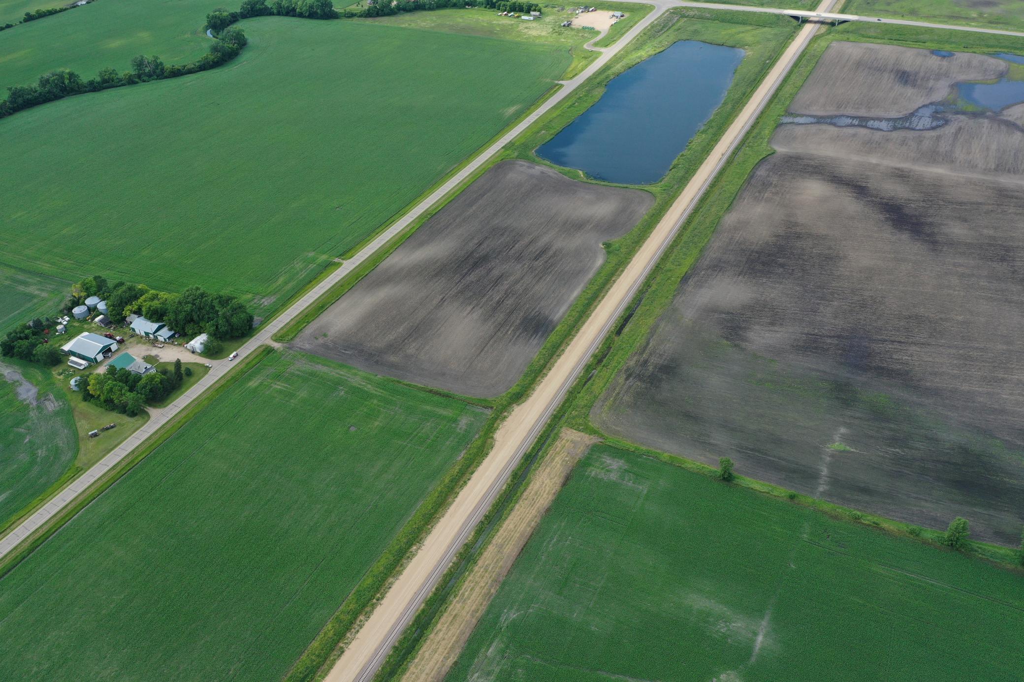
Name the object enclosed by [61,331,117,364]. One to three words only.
barn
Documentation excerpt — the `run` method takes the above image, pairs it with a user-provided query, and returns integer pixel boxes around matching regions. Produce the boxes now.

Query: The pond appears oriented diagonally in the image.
[537,40,744,185]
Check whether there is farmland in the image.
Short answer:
Yes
